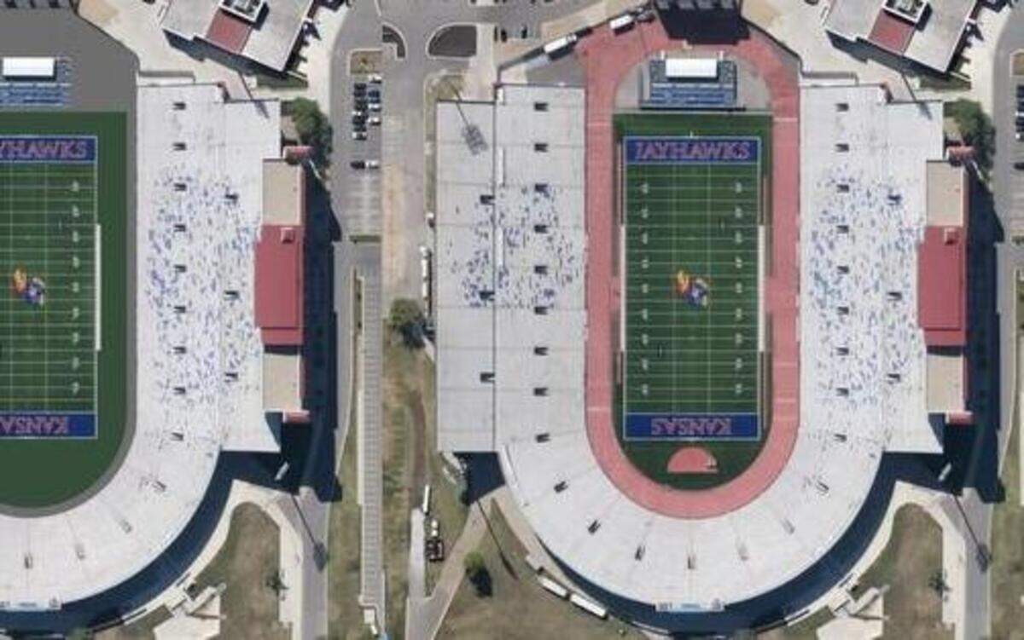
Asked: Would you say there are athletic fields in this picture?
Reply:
Yes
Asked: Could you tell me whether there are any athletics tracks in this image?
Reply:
Yes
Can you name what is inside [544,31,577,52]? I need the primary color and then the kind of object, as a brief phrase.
white truck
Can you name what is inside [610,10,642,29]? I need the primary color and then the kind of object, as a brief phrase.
white vehicle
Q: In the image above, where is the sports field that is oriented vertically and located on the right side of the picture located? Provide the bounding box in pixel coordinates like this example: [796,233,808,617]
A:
[624,136,760,442]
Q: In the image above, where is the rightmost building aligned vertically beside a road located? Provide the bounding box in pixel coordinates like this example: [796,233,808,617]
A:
[921,144,979,424]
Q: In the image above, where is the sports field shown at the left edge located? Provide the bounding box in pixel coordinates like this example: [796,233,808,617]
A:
[0,135,97,440]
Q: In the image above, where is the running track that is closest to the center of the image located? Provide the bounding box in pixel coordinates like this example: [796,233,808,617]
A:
[575,4,800,518]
